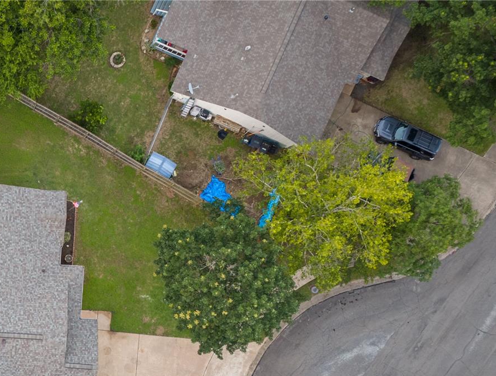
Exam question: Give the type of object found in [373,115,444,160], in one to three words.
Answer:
car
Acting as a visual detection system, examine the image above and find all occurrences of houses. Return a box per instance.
[151,0,410,158]
[0,186,98,376]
